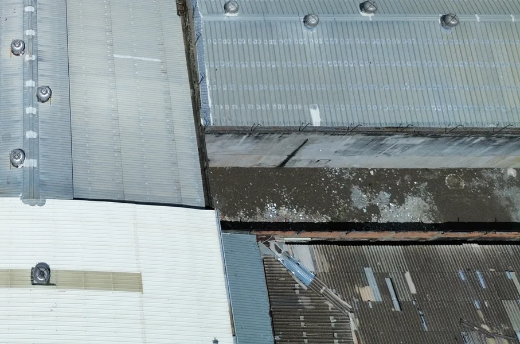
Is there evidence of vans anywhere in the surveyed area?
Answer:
No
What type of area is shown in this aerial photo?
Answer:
industrial area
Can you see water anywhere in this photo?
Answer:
No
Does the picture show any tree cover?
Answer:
No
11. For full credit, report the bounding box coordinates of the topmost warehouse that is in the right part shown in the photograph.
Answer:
[185,0,520,171]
